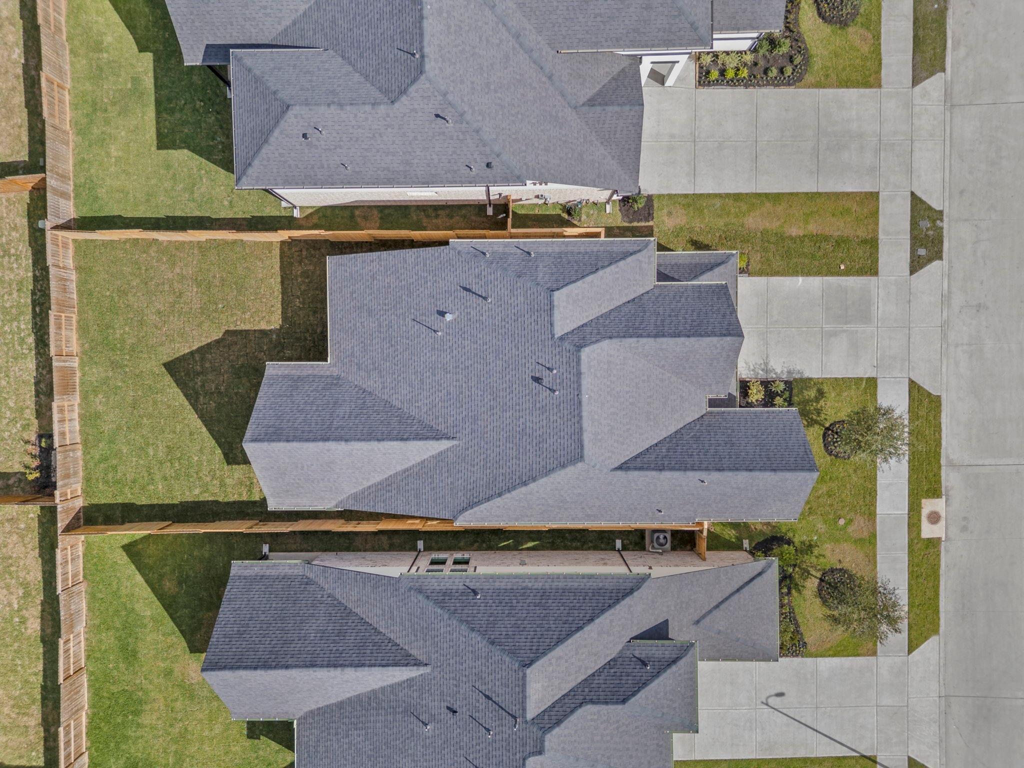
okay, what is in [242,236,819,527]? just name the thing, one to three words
house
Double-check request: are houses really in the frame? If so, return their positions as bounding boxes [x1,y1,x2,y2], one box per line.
[201,547,782,768]
[165,0,785,213]
[242,236,819,527]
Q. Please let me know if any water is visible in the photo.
No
